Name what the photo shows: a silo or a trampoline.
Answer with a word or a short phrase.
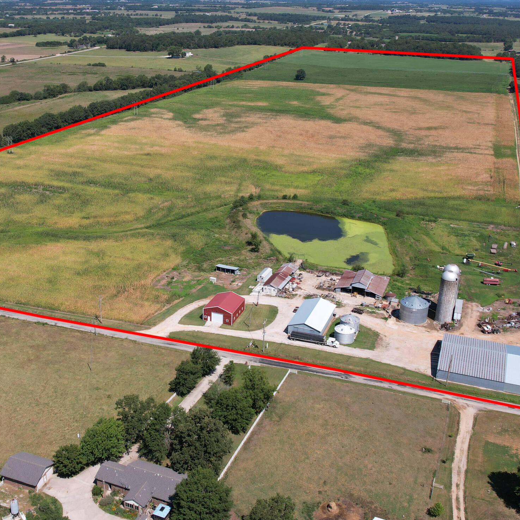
silo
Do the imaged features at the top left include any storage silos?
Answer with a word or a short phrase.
No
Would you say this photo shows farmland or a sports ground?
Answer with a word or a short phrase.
farmland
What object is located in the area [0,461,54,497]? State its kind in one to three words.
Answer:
building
